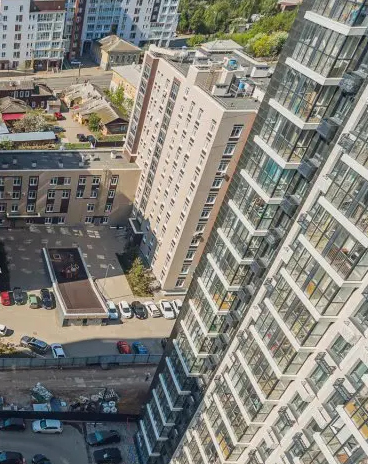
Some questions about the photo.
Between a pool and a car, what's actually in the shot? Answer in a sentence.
This aerial view contains a car.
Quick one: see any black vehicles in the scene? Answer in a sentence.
Yes, a black vehicle can be made out from above.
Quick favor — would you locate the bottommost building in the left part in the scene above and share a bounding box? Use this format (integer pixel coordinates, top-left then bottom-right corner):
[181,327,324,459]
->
[43,246,109,327]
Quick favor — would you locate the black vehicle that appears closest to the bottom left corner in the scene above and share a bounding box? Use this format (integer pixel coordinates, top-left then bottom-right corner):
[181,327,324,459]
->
[0,450,22,464]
